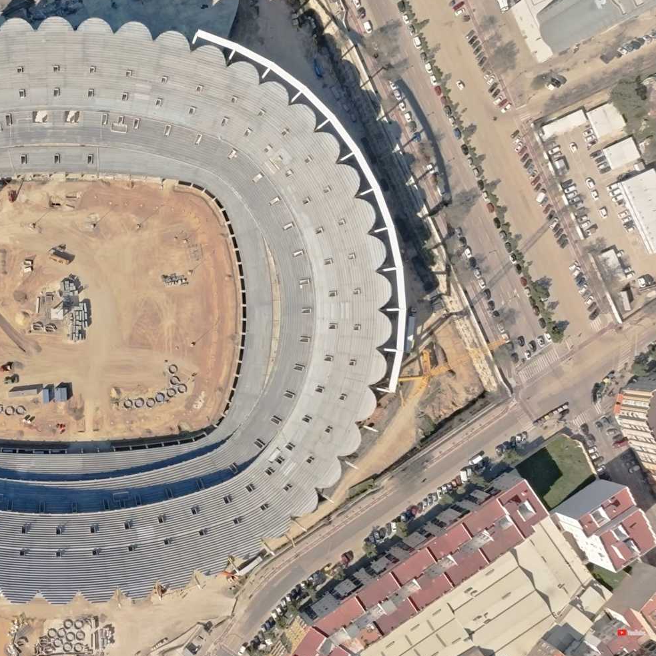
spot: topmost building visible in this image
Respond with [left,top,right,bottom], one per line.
[526,0,656,57]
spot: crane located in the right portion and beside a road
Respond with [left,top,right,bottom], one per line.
[399,337,510,381]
